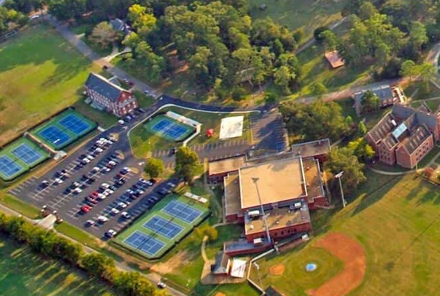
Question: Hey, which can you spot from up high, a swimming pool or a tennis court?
tennis court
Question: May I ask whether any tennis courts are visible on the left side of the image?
Yes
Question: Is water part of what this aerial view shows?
No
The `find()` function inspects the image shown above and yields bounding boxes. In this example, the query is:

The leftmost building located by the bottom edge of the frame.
[208,253,230,283]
